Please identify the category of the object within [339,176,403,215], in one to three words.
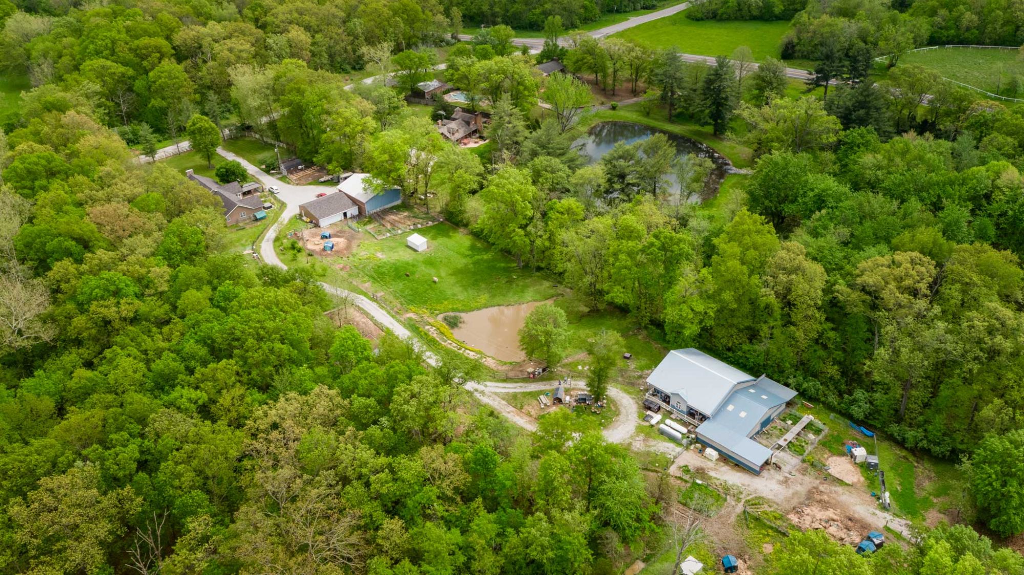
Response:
barn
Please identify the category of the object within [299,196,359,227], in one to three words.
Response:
building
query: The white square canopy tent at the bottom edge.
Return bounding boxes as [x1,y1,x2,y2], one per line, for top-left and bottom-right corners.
[677,555,710,575]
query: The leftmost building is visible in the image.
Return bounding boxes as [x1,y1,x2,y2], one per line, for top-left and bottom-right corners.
[182,174,264,225]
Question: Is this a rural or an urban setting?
rural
